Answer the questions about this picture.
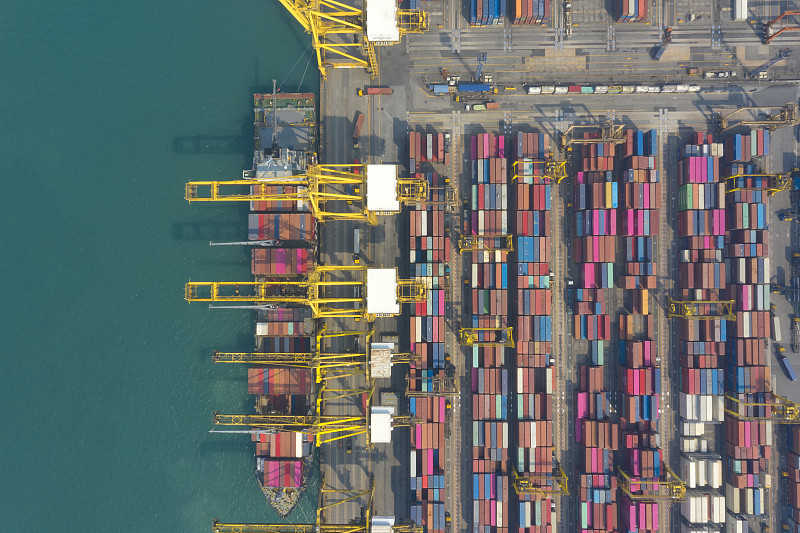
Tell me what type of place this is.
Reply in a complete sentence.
The picture captures a port.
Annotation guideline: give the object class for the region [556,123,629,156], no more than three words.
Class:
crane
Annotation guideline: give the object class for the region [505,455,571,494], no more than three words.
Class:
crane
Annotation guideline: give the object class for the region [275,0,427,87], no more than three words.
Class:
container crane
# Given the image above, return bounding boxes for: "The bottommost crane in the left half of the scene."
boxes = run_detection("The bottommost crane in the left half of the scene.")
[209,474,421,533]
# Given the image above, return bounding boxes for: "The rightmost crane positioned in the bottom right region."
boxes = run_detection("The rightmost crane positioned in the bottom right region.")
[723,394,795,420]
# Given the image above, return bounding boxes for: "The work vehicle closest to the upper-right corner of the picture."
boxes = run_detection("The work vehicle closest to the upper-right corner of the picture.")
[743,45,800,82]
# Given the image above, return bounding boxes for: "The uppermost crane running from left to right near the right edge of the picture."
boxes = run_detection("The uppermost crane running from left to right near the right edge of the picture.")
[714,106,799,140]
